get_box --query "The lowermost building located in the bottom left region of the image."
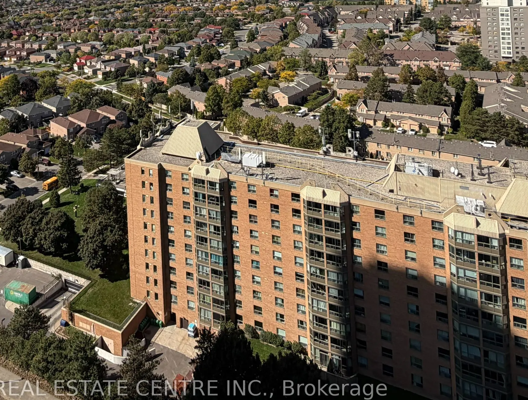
[62,276,143,364]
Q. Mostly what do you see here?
buildings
